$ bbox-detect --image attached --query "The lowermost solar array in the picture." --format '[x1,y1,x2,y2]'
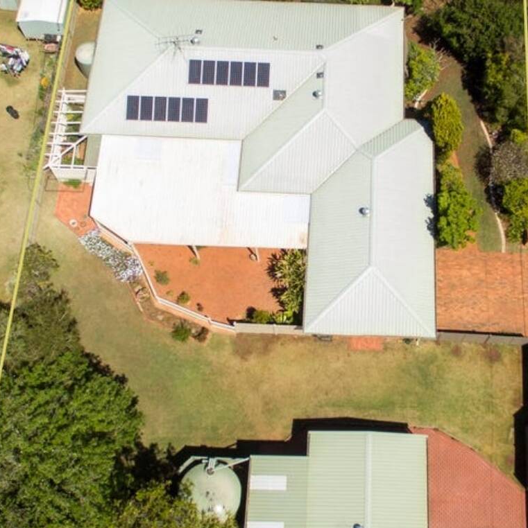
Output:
[127,95,206,125]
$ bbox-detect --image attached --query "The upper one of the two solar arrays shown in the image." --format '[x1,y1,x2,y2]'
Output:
[188,60,268,89]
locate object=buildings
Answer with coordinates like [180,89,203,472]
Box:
[17,0,77,38]
[243,430,430,528]
[80,0,437,340]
